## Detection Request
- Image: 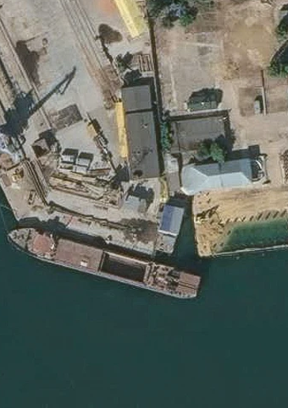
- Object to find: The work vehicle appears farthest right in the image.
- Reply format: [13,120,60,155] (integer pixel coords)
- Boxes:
[193,207,217,221]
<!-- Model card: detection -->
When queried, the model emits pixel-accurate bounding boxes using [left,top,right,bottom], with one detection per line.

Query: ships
[7,228,201,298]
